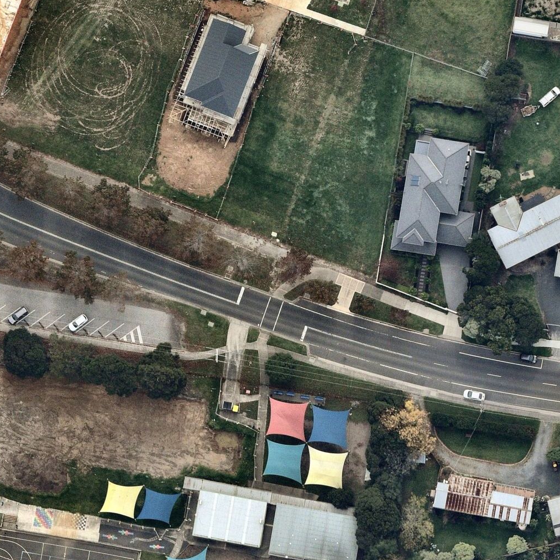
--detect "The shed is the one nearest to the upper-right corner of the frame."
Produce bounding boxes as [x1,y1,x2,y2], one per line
[512,18,550,40]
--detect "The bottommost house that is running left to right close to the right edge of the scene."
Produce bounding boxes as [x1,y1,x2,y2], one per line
[431,475,534,525]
